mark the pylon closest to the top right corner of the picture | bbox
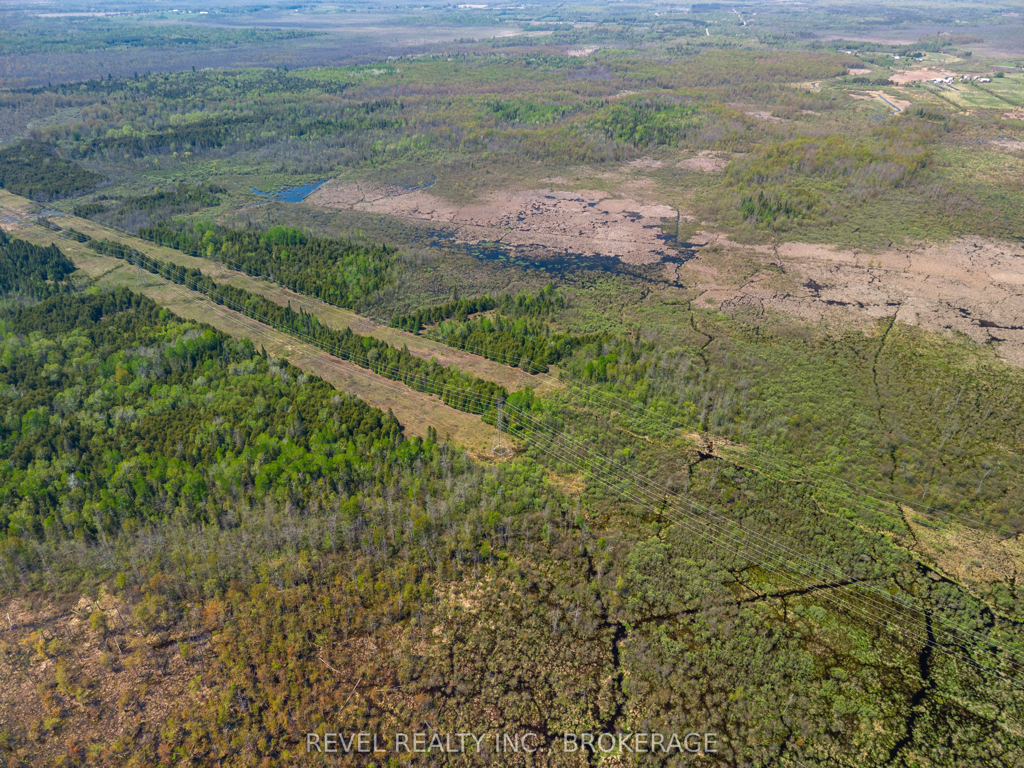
[516,354,532,388]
